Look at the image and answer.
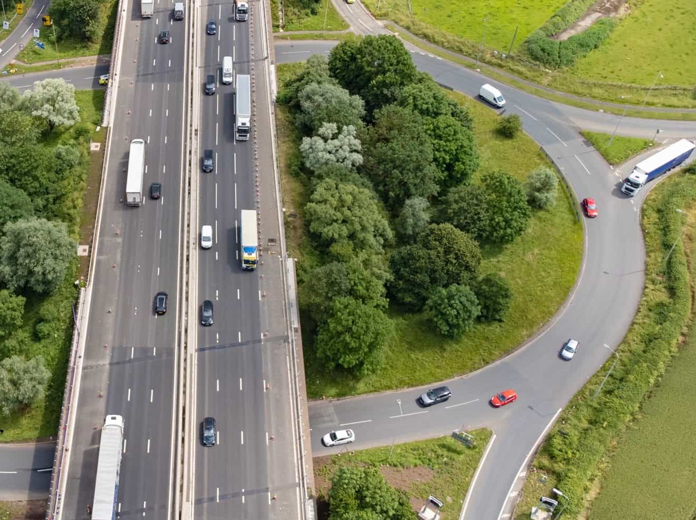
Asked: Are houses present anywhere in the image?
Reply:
No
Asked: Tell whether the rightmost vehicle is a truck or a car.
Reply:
truck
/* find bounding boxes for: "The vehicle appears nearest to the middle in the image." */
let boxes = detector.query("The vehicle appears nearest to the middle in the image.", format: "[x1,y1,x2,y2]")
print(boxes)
[239,209,259,270]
